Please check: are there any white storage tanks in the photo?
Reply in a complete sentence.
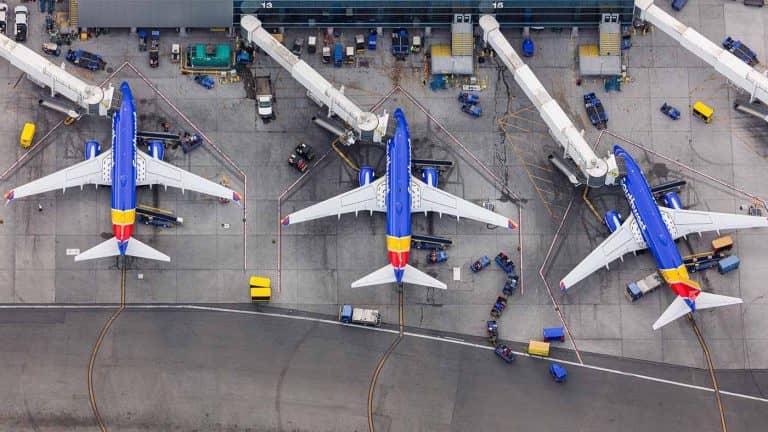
No, no white storage tank can be seen from above.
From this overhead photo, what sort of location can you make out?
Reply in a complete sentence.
This looks like an airport.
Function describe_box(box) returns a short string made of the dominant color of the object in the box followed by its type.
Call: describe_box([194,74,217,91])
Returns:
blue work vehicle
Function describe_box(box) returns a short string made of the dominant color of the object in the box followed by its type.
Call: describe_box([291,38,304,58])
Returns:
gray vehicle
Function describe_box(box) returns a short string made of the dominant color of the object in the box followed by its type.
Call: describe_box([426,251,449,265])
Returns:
blue vehicle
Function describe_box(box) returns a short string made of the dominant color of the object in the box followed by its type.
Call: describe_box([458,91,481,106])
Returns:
blue work vehicle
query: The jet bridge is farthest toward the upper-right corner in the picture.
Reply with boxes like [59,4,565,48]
[635,0,768,113]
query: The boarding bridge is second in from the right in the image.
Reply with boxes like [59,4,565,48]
[479,13,627,188]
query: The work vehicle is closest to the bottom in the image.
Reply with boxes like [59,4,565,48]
[547,359,568,383]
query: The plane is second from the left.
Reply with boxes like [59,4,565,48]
[279,108,519,289]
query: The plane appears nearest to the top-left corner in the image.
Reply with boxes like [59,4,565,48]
[4,82,242,262]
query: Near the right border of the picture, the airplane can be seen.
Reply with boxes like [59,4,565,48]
[559,146,768,332]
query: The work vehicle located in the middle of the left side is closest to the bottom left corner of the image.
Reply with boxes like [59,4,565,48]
[136,204,185,231]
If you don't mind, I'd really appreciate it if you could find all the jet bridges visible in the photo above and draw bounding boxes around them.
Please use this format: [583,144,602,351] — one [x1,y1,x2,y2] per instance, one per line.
[239,13,394,144]
[479,13,627,188]
[0,27,122,118]
[635,0,768,113]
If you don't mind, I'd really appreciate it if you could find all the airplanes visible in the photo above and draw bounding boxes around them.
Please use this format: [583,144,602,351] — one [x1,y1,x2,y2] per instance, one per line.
[4,82,242,262]
[279,108,519,289]
[559,146,768,332]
